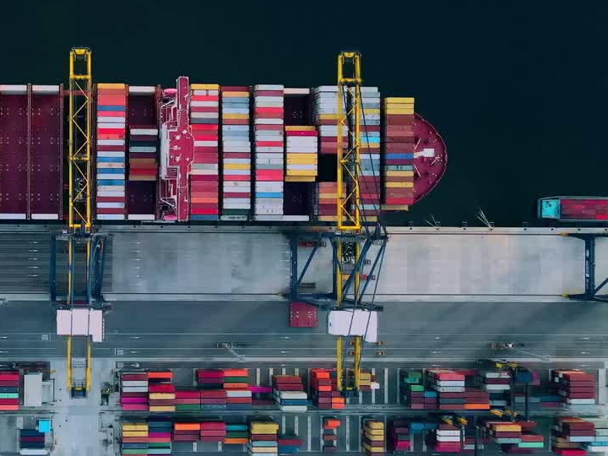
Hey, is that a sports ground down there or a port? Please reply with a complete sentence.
This image shows a port.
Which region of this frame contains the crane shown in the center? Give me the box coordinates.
[271,51,398,391]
